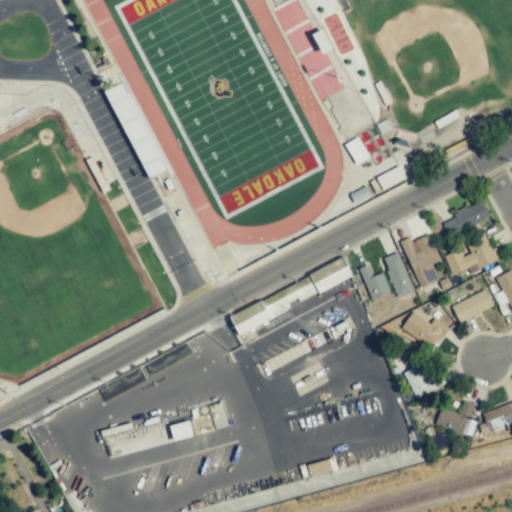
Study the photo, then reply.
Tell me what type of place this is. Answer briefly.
sports ground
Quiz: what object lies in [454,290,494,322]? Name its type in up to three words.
house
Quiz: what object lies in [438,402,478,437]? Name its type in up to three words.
house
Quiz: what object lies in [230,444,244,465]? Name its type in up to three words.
vehicle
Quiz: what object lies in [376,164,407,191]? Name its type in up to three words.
shed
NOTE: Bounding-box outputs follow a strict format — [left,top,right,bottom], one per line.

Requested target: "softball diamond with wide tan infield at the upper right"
[346,0,512,133]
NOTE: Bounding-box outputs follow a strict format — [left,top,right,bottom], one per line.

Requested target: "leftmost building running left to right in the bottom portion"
[101,421,174,458]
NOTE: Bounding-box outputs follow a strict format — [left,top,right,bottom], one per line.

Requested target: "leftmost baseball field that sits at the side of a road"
[0,107,162,384]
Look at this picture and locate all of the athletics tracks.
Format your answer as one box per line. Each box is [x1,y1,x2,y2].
[86,0,344,248]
